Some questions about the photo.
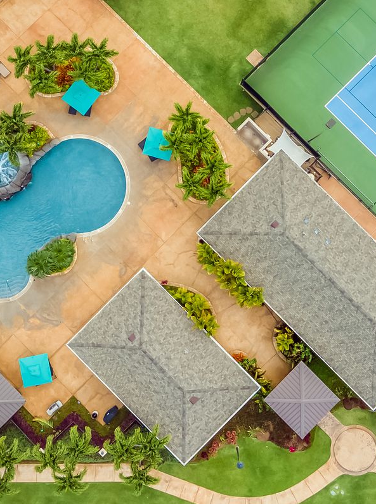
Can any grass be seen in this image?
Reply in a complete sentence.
Yes, there is grass in the image.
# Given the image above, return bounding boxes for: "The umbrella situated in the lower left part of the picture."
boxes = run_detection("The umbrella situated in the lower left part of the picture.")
[18,352,54,389]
